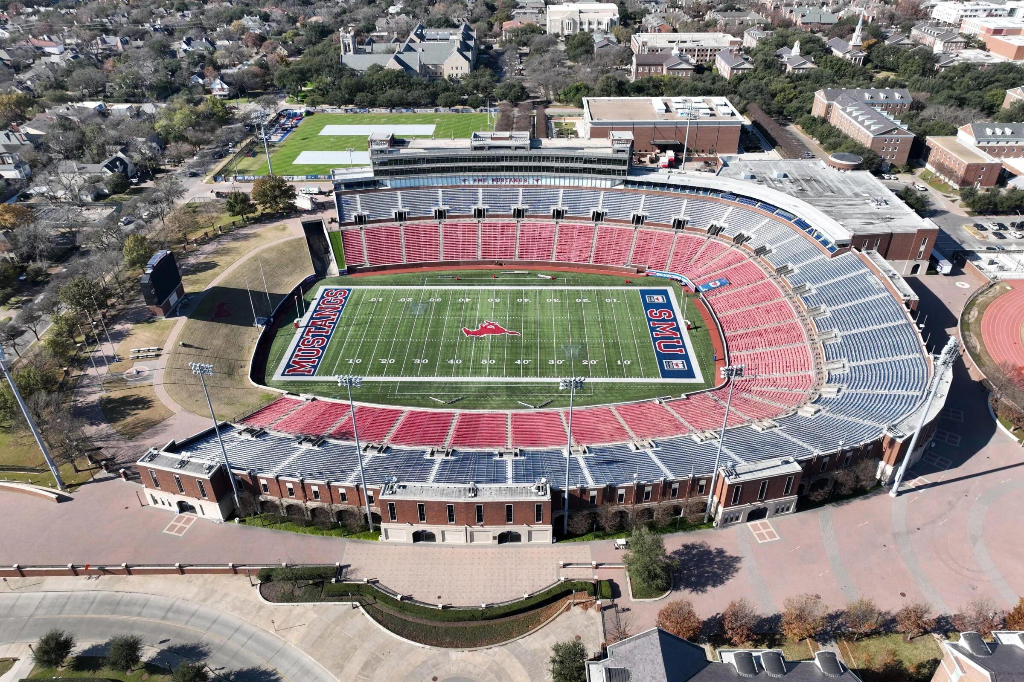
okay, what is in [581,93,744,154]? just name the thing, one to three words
building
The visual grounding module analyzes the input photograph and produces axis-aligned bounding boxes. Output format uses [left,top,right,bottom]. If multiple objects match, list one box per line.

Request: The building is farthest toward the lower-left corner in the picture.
[136,447,233,521]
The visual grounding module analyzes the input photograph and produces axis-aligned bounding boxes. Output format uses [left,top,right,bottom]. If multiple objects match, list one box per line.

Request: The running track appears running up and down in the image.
[981,278,1024,388]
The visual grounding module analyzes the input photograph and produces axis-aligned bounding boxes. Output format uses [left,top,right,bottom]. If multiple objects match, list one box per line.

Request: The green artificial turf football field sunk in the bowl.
[264,270,717,419]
